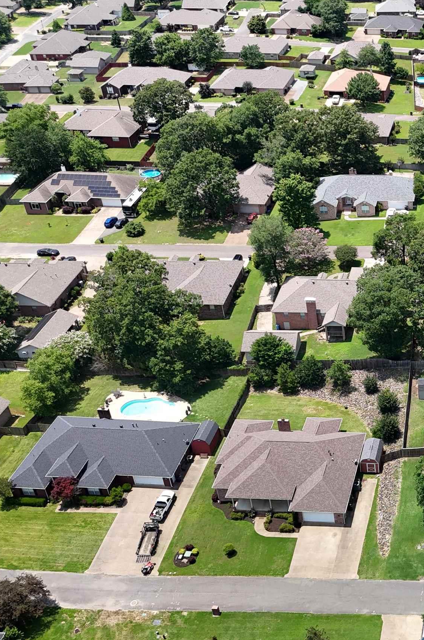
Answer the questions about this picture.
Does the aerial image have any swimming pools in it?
Yes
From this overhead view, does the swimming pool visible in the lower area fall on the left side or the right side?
left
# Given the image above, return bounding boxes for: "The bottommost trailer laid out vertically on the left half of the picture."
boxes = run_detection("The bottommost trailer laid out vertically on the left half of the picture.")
[135,513,157,563]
